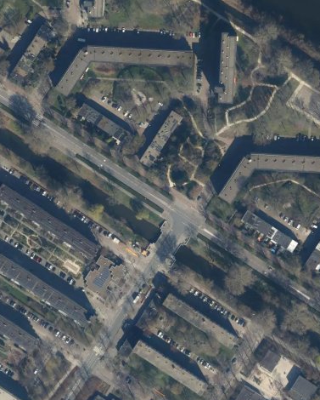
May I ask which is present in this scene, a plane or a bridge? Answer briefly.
bridge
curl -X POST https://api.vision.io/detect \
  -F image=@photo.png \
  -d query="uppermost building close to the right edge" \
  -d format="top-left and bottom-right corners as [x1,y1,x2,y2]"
[218,153,320,202]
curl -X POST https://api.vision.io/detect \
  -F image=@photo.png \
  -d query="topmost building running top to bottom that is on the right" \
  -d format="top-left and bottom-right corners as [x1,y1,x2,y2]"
[213,32,238,104]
